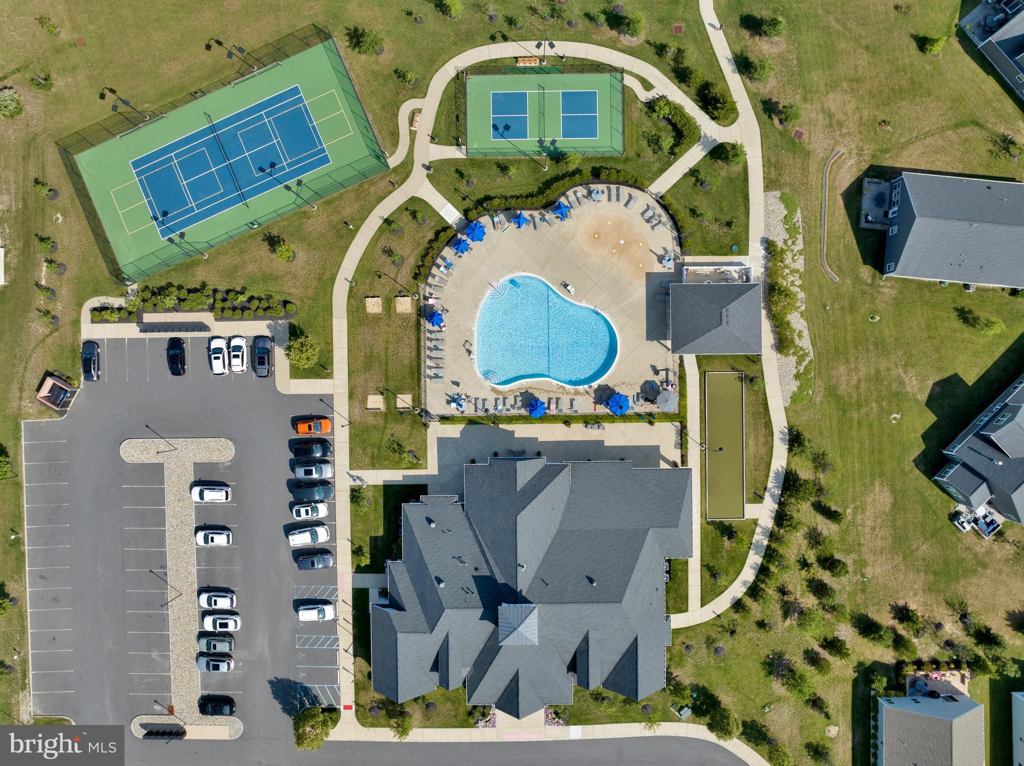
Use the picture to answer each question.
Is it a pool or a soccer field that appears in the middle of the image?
pool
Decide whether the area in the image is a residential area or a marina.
residential area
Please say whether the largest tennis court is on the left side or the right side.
left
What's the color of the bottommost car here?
black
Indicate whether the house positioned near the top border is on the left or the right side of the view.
right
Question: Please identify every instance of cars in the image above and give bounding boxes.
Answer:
[291,484,333,502]
[165,338,185,375]
[296,606,334,625]
[295,554,333,573]
[293,463,332,481]
[190,487,230,505]
[194,532,231,549]
[228,338,247,373]
[202,616,239,635]
[286,527,329,548]
[291,503,328,521]
[197,637,233,656]
[292,441,331,459]
[252,337,272,376]
[198,594,235,613]
[196,657,233,677]
[198,701,235,721]
[78,341,99,380]
[208,338,229,375]
[294,419,330,436]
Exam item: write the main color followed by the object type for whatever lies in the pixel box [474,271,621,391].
blue swimming pool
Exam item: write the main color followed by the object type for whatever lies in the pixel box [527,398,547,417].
blue umbrella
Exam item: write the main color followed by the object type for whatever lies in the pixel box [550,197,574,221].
blue umbrella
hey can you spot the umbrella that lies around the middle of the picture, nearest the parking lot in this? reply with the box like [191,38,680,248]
[427,310,444,327]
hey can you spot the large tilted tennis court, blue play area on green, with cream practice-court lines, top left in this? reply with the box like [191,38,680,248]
[74,39,388,283]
